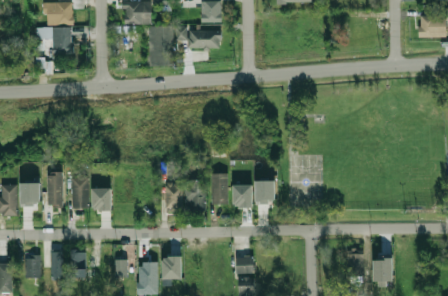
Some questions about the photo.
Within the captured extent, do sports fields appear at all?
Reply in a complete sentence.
Yes, a sports field can be made out from above.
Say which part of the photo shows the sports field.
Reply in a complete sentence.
You can find the sports field in the right area of the picture.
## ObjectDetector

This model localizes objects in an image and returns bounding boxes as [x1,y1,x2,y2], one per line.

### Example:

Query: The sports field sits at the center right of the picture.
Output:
[325,88,444,205]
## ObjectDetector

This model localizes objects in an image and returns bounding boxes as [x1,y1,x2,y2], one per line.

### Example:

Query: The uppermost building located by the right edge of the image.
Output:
[419,16,447,38]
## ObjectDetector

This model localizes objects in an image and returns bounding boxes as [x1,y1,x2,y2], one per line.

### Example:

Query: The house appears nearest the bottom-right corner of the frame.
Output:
[374,259,394,288]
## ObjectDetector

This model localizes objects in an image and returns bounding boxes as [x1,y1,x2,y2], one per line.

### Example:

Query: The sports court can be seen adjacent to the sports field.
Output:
[290,154,323,207]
